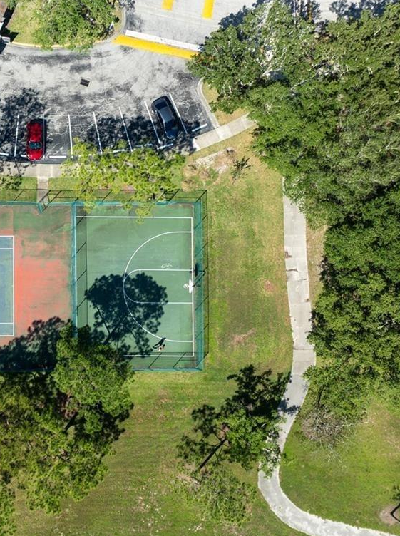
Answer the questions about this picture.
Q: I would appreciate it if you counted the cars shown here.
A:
two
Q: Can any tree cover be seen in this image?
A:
Yes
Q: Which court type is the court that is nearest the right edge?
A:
basketball court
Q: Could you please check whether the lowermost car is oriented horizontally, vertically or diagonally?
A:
vertically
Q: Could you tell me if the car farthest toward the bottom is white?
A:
No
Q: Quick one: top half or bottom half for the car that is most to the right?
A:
top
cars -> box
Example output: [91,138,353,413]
[26,118,47,160]
[152,92,181,139]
